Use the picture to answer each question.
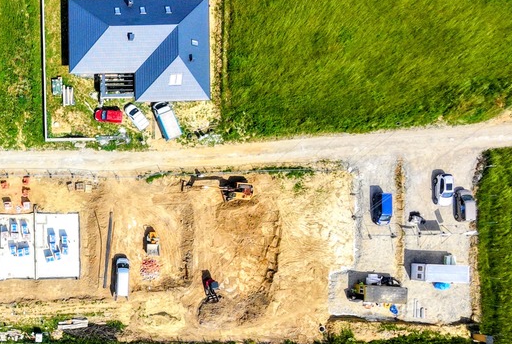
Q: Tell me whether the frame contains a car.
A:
Yes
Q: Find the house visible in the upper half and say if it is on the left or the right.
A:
left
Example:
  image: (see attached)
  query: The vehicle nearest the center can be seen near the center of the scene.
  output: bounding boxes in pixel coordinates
[191,184,259,202]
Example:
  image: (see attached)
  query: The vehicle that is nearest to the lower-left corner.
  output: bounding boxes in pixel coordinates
[114,256,130,299]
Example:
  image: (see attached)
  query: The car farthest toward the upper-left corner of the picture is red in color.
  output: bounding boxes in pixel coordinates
[94,108,124,123]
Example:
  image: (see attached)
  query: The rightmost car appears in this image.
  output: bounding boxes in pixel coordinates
[456,189,474,221]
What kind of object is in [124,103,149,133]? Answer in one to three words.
car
